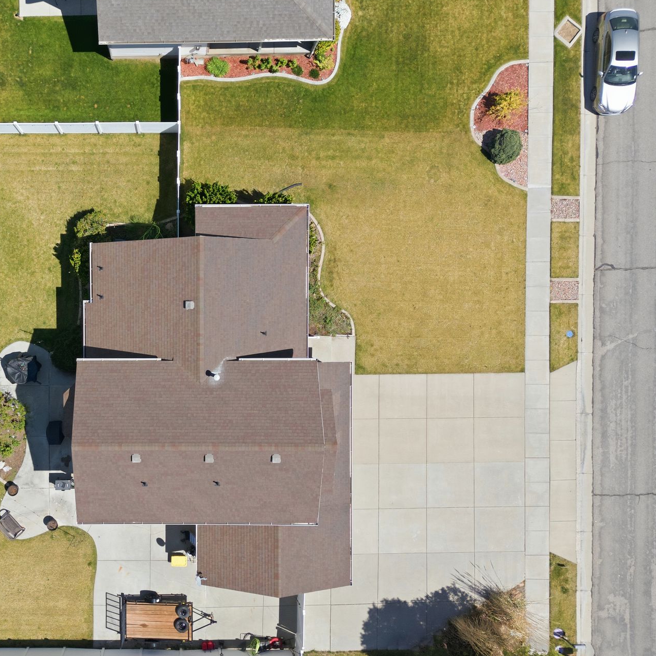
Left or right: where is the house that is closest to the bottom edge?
left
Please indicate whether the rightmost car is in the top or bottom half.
top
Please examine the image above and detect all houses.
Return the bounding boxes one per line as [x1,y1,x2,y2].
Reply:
[96,0,338,61]
[65,202,355,598]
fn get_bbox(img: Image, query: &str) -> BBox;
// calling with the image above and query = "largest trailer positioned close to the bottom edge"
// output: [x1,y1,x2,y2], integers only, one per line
[122,592,219,648]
